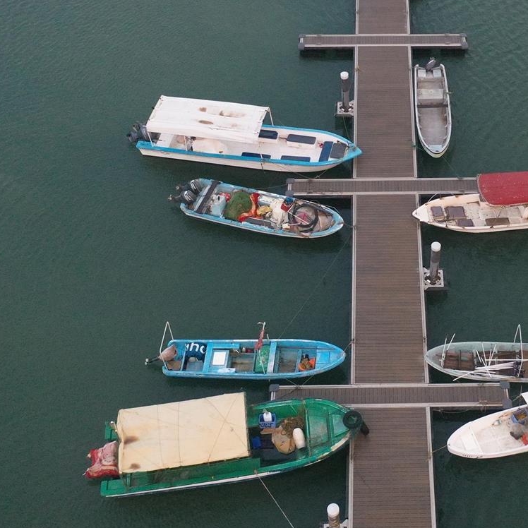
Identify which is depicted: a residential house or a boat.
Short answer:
boat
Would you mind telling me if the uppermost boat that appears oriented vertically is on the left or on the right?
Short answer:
right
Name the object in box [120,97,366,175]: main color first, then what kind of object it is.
white boat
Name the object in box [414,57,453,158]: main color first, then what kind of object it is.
gray boat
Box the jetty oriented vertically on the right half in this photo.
[320,0,448,528]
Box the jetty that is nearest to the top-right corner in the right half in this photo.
[298,33,468,55]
